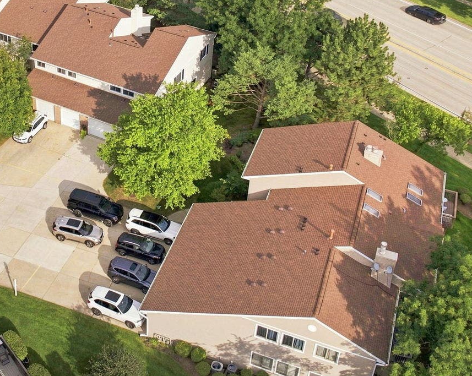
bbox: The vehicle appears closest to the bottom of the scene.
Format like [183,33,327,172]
[85,285,144,328]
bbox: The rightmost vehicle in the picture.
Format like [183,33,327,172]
[405,3,446,24]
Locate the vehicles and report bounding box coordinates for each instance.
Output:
[103,255,158,294]
[405,3,446,24]
[85,285,144,328]
[125,207,181,245]
[65,188,127,226]
[111,228,168,264]
[13,113,50,145]
[49,215,105,248]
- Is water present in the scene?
No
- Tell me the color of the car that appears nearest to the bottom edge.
white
